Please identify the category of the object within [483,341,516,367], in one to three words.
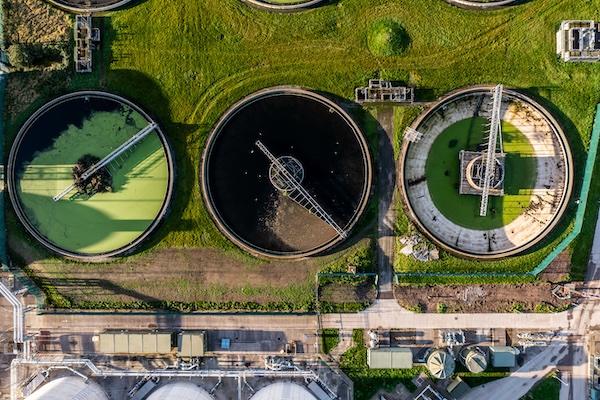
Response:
building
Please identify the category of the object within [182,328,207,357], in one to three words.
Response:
building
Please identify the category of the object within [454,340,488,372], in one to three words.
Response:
silo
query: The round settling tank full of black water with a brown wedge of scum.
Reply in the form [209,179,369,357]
[202,87,372,258]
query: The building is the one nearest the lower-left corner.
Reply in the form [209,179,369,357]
[100,330,175,353]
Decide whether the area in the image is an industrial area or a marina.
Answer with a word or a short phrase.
industrial area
